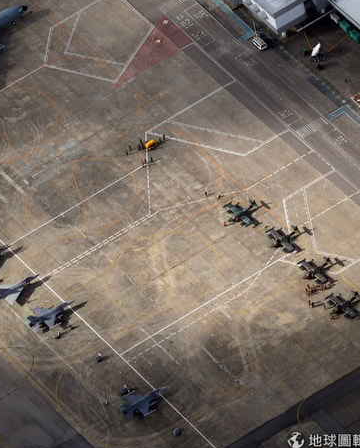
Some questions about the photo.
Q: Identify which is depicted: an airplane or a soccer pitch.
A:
airplane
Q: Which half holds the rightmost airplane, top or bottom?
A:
bottom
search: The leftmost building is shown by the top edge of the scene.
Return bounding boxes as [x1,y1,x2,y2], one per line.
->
[236,0,308,35]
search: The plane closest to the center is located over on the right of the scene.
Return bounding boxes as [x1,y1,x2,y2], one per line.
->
[222,200,256,228]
